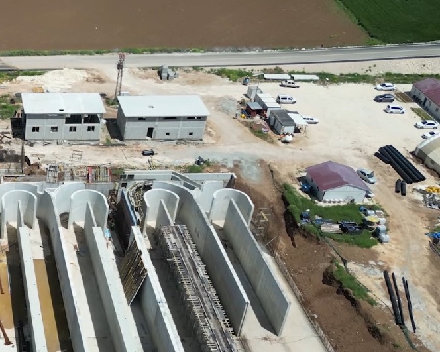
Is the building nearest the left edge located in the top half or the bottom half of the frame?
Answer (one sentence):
You can find the building nearest the left edge in the top half.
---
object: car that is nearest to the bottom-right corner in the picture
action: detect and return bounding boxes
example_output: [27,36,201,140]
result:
[365,184,383,199]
